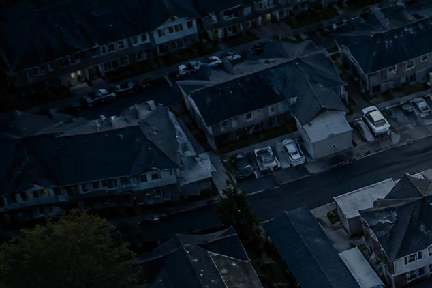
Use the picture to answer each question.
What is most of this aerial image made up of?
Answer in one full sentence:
What you mostly see from above here is buildings.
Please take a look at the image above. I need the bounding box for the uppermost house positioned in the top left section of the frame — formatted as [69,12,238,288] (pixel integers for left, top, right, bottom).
[0,0,194,102]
